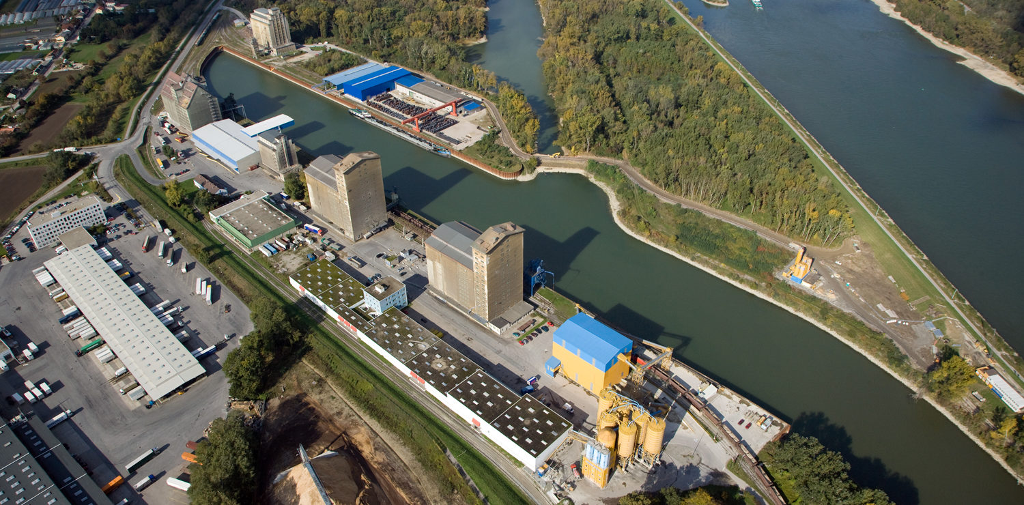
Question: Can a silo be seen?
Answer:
Yes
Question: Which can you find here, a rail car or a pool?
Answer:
rail car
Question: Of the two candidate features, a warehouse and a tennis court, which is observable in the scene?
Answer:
warehouse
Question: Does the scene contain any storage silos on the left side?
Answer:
Yes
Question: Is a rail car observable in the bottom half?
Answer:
Yes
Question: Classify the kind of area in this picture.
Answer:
port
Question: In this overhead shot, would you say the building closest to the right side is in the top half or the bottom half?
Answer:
bottom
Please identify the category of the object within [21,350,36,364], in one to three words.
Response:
vehicle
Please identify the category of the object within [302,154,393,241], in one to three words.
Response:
silo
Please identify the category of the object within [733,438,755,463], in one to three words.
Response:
rail car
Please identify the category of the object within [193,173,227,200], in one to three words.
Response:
house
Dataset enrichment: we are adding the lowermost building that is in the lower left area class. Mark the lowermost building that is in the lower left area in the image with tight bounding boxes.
[0,417,112,505]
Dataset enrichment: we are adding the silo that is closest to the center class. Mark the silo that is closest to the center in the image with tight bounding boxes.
[419,222,537,334]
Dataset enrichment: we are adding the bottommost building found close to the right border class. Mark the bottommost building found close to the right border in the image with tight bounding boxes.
[976,362,1024,411]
